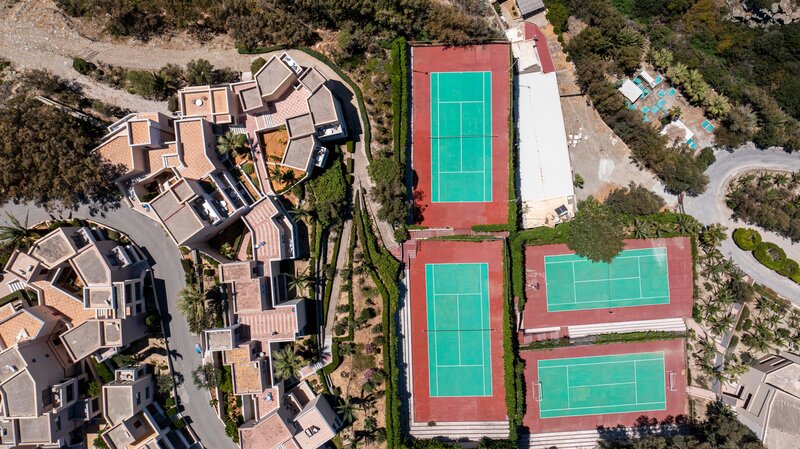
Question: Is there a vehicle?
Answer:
No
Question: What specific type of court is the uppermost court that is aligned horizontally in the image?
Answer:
tennis court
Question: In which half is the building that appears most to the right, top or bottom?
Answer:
bottom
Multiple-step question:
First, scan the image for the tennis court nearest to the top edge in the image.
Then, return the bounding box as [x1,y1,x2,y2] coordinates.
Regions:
[412,44,511,227]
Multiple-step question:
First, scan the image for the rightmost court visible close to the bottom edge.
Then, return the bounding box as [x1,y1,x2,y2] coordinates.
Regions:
[520,339,687,434]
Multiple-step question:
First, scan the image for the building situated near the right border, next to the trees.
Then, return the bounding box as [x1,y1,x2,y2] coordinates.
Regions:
[720,346,800,449]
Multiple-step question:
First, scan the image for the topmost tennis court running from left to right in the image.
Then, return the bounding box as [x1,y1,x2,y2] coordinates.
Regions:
[523,237,692,329]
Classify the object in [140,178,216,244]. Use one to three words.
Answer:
house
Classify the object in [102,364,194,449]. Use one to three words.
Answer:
house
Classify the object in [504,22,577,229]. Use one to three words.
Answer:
building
